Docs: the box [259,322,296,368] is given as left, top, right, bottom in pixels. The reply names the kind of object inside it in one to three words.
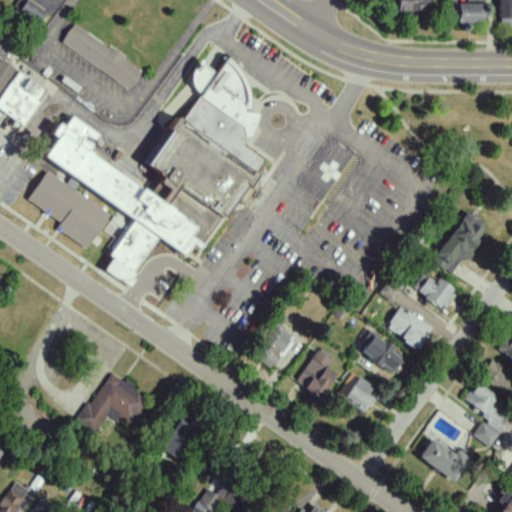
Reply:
house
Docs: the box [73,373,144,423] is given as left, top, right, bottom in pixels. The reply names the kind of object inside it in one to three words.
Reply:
house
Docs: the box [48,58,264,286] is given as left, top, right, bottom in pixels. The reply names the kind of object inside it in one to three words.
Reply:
building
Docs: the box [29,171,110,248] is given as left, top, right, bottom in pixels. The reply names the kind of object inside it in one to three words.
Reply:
building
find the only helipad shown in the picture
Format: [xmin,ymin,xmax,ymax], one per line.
[298,135,362,204]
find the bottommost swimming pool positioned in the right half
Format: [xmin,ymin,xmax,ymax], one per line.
[425,410,469,454]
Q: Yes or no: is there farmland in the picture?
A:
No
